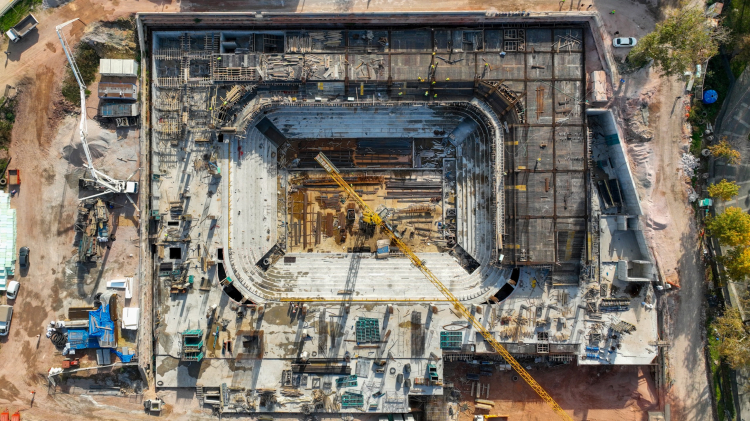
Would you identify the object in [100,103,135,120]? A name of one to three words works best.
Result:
building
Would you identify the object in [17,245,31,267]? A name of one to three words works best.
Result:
vehicle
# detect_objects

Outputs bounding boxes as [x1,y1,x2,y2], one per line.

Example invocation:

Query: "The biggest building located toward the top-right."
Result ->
[587,70,607,105]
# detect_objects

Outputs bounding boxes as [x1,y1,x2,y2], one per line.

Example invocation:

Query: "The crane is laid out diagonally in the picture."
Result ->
[315,149,576,421]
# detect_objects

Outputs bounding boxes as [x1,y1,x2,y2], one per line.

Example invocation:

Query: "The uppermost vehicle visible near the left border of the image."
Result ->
[1,10,42,45]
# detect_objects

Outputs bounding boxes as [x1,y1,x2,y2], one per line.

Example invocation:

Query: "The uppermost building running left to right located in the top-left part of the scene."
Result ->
[100,59,144,80]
